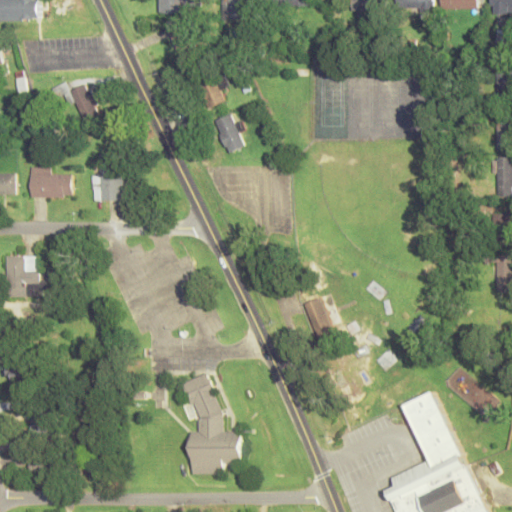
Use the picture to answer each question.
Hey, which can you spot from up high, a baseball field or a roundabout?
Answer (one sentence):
The one in the frame is a baseball field.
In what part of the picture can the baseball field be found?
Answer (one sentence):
Look in the right portion of the view to spot the baseball field.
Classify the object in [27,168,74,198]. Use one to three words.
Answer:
house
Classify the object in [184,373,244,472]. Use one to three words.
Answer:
building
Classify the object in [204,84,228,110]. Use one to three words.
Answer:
house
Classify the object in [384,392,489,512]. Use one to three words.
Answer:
building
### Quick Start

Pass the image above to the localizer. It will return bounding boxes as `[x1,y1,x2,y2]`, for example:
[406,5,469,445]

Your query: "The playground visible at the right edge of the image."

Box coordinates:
[446,367,499,406]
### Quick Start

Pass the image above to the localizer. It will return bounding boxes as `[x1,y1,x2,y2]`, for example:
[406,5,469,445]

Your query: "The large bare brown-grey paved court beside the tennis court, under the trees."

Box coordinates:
[348,66,426,140]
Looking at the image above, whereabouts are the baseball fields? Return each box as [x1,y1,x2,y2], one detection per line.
[318,143,430,281]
